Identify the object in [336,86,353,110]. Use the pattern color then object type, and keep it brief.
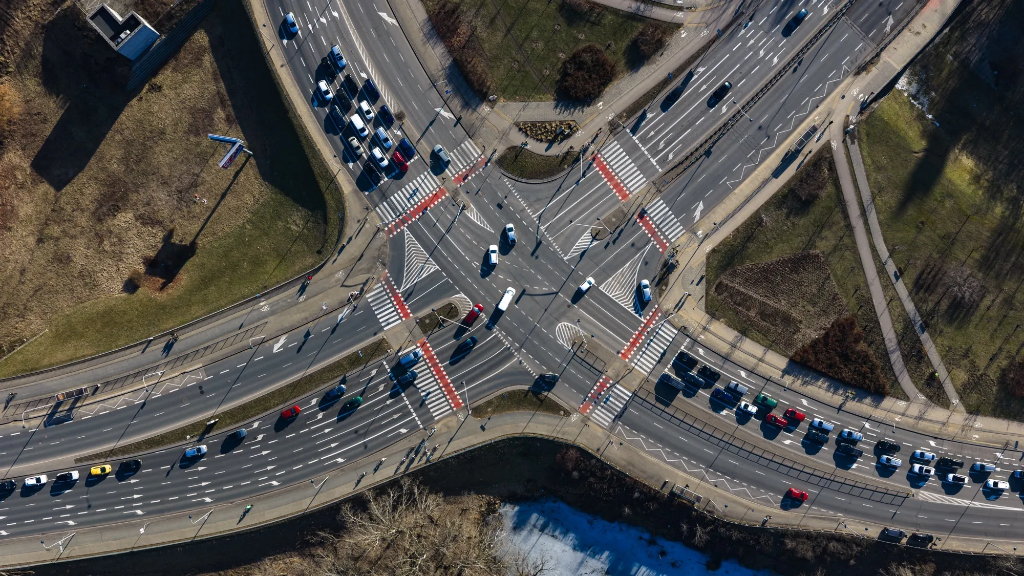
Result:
black car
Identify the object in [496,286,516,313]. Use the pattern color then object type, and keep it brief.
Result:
white vehicle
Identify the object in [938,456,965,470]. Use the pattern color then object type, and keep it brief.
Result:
black car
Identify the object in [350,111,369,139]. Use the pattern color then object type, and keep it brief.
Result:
white vehicle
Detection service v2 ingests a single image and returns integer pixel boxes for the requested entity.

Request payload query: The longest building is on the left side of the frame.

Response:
[86,3,164,61]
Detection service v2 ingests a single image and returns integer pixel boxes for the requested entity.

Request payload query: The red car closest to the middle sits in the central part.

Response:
[463,303,482,326]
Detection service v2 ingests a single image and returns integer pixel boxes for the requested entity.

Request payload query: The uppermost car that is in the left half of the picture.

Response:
[284,11,300,34]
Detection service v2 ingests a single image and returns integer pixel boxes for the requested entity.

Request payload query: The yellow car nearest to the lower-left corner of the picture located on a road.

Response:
[90,464,113,476]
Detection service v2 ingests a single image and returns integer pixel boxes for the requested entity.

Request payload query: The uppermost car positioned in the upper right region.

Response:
[783,8,809,35]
